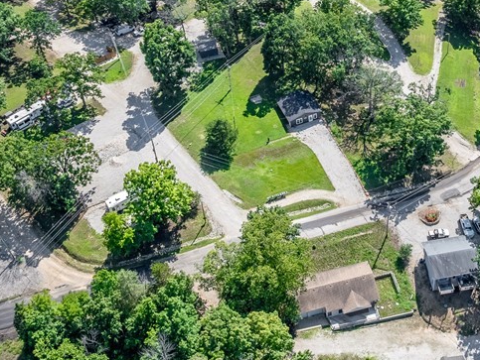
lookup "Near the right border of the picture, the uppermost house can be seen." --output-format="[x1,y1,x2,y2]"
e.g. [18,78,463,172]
[423,235,478,298]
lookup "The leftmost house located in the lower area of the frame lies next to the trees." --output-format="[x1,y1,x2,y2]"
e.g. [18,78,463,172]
[297,263,383,331]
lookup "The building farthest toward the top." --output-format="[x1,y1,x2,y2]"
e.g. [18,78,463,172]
[198,39,219,59]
